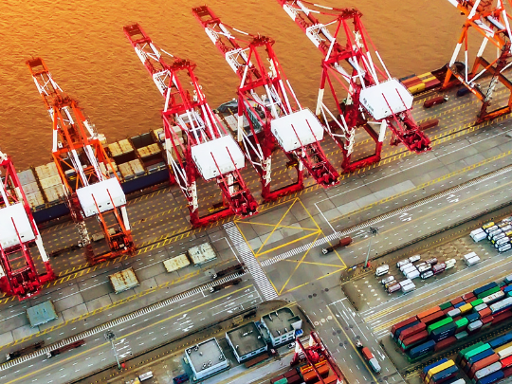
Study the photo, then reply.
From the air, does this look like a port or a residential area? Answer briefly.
port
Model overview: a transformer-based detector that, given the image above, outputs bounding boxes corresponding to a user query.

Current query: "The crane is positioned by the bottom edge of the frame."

[290,331,345,384]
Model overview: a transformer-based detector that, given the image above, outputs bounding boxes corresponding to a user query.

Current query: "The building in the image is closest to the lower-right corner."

[262,307,302,350]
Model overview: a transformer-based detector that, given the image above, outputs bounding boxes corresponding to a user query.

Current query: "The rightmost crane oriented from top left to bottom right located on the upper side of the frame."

[274,0,434,173]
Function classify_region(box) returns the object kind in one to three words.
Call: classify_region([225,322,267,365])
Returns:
building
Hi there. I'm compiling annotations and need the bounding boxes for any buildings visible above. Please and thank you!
[185,339,226,382]
[262,307,302,350]
[225,322,267,365]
